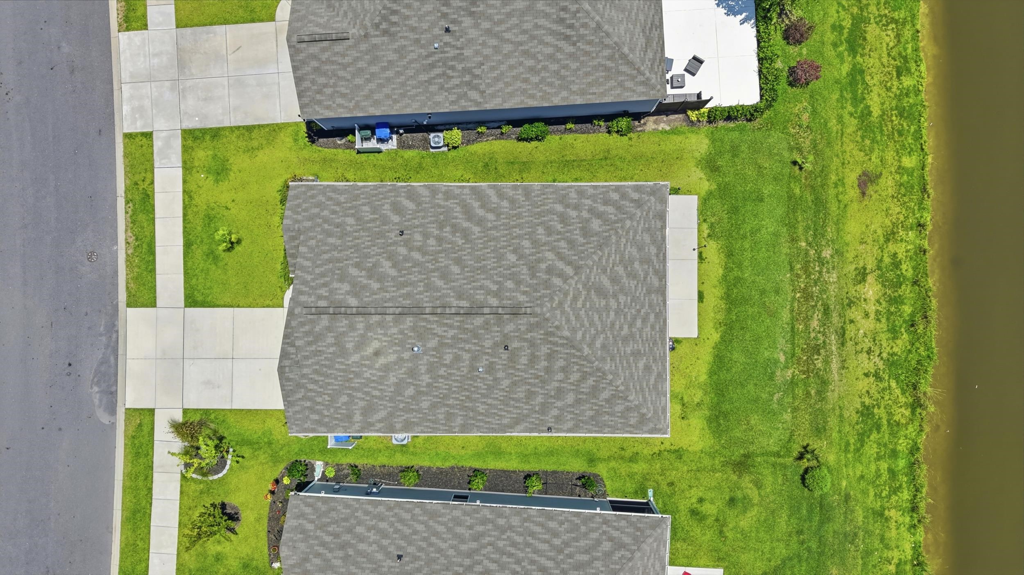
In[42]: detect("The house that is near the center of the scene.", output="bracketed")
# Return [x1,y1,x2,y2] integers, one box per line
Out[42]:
[278,182,672,437]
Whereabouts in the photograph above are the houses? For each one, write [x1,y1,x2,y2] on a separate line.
[278,182,672,437]
[289,0,668,138]
[281,471,672,575]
